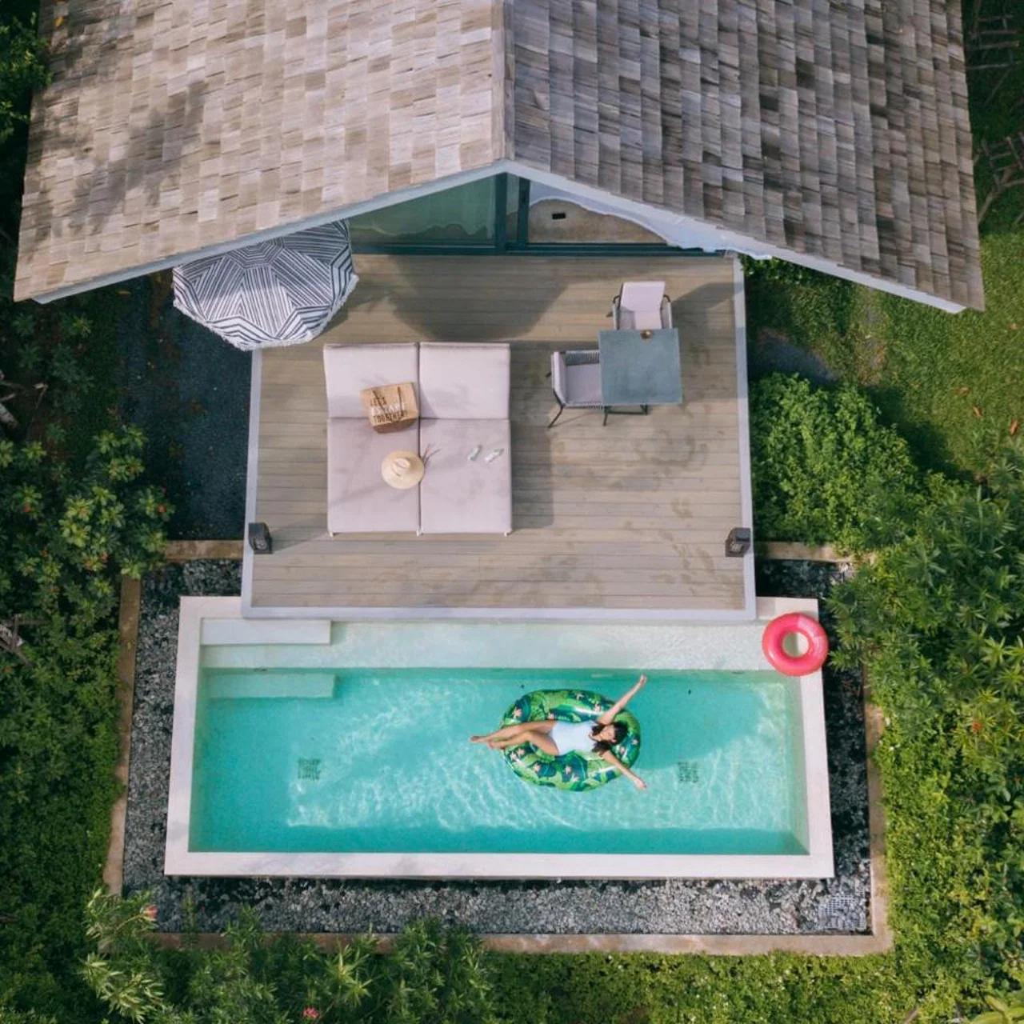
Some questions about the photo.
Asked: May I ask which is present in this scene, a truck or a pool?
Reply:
pool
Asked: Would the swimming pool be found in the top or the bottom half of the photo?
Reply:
bottom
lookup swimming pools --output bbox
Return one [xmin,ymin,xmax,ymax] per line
[163,598,834,879]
